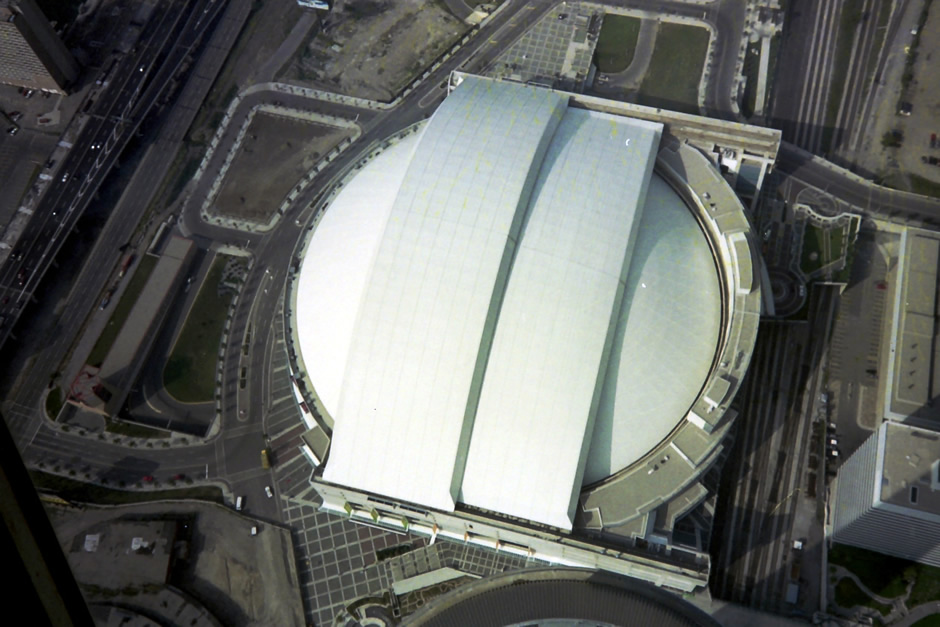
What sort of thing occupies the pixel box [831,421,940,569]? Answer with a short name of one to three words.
building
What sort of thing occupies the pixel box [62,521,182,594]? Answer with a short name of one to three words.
building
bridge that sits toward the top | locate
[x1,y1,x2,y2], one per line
[772,140,940,233]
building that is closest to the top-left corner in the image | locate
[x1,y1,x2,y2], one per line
[0,0,84,99]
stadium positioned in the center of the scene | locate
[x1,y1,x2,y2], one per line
[285,73,780,599]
